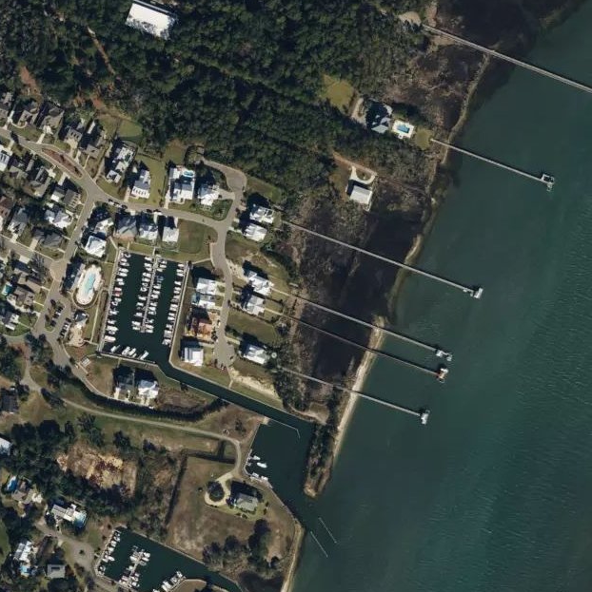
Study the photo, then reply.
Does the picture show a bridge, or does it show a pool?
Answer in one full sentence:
It is a pool that can be seen here.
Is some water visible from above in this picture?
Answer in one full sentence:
Yes, the picture does contain water.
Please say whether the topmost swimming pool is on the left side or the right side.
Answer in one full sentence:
The topmost swimming pool appears in the right half of the scene.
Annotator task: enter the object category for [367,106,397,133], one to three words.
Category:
house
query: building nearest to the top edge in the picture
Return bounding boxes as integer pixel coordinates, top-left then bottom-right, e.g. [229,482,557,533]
[125,0,176,37]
